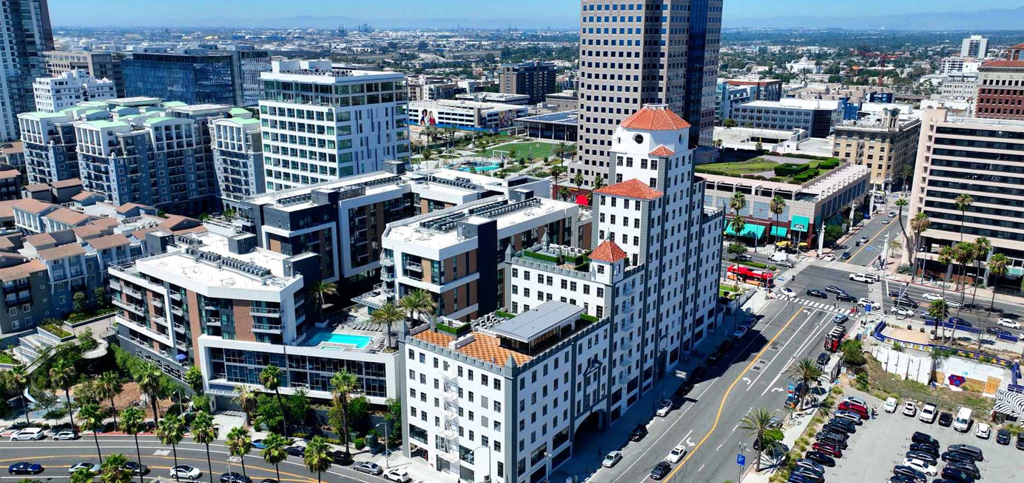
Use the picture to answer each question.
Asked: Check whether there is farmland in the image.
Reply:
No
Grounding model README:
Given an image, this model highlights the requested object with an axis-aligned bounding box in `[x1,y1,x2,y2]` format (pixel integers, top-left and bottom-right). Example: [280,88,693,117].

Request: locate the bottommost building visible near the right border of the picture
[992,387,1024,433]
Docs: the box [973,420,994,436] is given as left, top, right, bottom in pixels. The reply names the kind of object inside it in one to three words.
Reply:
car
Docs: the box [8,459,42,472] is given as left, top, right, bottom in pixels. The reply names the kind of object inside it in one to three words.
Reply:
vehicle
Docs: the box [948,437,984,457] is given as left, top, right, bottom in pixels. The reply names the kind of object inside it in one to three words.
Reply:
car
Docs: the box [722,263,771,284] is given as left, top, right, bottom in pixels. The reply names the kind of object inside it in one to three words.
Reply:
bus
